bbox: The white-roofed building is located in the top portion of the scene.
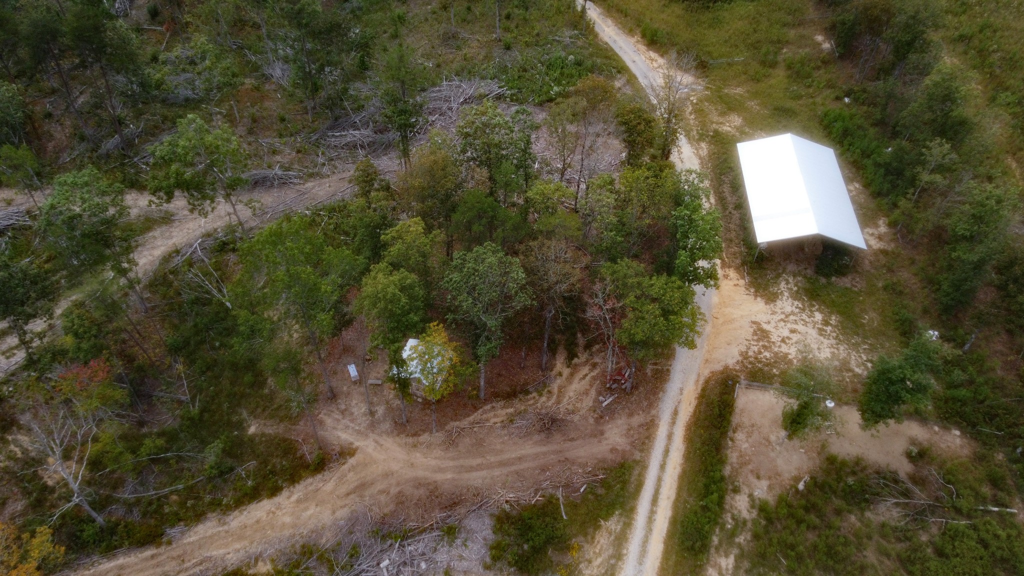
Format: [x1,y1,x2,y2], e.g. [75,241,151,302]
[736,134,869,268]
